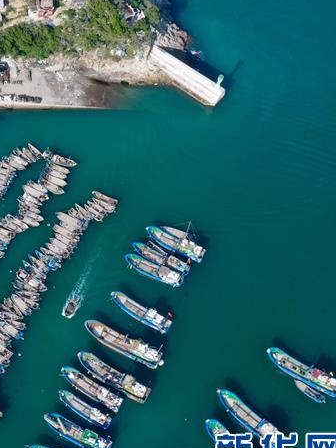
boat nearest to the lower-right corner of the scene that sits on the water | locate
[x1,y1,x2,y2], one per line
[295,380,327,404]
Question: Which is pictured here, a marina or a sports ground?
marina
